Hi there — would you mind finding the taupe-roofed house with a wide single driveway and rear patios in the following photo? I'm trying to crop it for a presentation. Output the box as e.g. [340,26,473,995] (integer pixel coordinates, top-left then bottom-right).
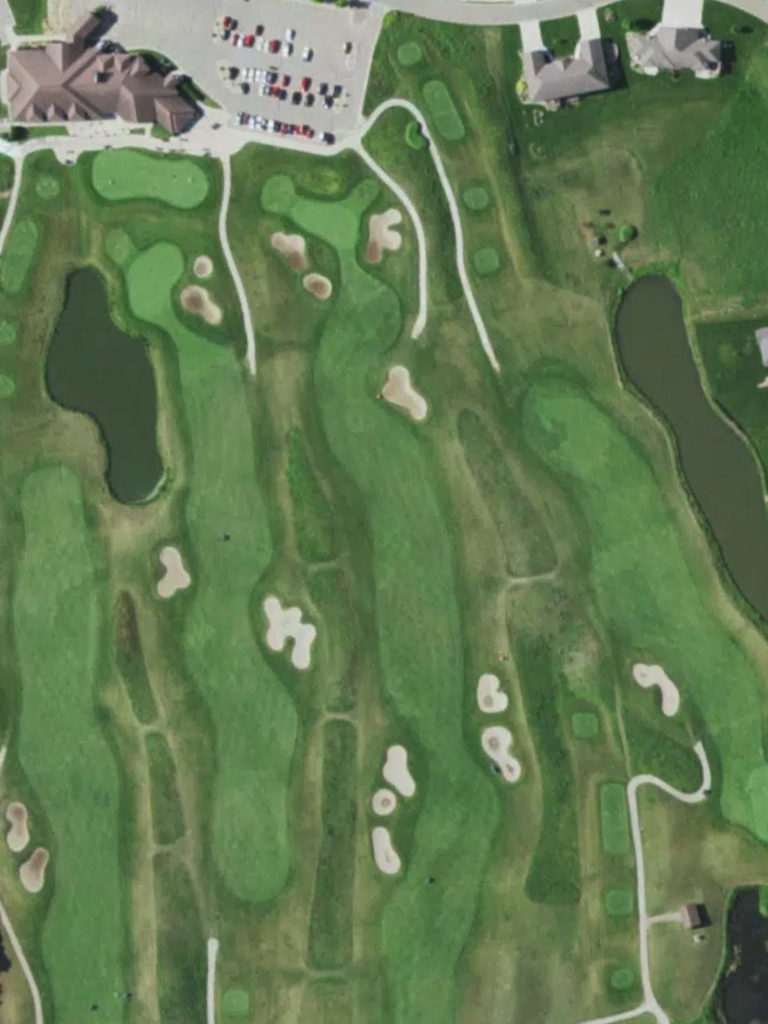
[630,28,723,70]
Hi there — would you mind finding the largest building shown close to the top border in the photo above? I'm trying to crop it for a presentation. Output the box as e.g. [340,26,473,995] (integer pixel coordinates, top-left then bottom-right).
[7,11,197,135]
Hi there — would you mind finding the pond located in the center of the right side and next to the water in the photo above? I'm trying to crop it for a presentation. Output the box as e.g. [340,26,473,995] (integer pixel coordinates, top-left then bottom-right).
[616,274,768,625]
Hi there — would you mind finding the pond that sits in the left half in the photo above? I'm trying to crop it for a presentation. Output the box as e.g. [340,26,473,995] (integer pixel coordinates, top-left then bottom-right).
[46,267,165,504]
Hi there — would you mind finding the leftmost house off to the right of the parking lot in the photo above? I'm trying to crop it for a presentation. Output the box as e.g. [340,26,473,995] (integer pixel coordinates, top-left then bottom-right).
[523,38,611,100]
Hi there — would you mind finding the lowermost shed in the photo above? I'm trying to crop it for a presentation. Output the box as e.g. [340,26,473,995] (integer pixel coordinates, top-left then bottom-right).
[680,904,701,930]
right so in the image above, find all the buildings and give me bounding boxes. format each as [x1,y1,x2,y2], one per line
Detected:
[7,11,197,135]
[756,328,768,367]
[680,904,701,930]
[523,38,611,100]
[630,28,723,70]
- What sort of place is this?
golf course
